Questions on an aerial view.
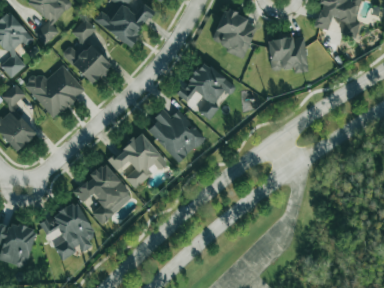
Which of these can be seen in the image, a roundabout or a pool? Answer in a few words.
pool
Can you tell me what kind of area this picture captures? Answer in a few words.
residential area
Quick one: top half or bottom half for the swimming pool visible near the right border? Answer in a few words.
top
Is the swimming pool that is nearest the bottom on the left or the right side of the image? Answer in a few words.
left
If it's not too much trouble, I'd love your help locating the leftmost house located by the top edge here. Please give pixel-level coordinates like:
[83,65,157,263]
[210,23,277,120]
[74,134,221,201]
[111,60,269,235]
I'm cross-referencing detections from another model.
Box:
[0,12,32,75]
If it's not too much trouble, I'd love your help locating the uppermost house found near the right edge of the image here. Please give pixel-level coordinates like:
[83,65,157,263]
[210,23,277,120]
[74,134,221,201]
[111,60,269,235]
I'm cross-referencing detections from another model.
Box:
[314,0,365,38]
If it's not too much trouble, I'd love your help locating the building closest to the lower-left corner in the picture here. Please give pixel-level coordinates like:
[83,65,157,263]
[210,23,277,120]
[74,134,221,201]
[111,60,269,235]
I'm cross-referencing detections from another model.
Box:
[0,226,38,264]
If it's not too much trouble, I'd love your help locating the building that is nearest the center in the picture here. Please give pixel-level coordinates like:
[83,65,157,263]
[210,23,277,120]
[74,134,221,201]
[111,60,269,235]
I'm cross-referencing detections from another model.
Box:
[146,106,204,164]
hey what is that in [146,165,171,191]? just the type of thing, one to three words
swimming pool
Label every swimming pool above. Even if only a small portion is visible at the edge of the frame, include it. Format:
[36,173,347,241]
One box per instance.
[358,0,381,24]
[146,165,171,191]
[112,199,138,225]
